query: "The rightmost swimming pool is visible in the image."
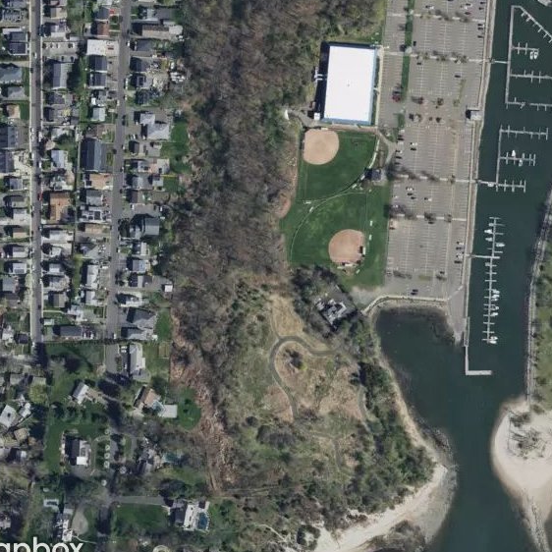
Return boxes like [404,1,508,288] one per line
[196,501,210,532]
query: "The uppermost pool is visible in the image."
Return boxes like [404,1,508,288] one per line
[151,403,177,418]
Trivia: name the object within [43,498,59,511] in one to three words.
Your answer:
swimming pool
